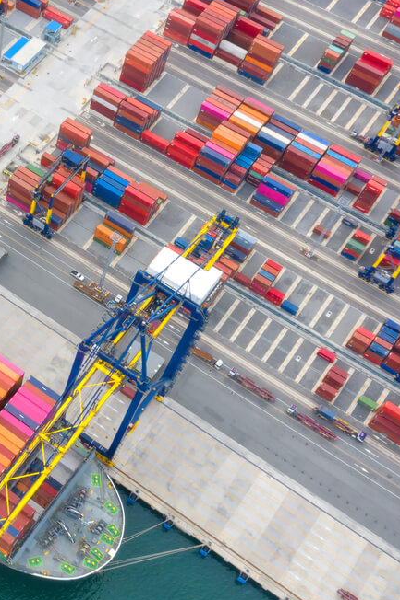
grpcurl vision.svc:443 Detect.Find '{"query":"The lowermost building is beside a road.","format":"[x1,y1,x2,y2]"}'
[0,38,46,79]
